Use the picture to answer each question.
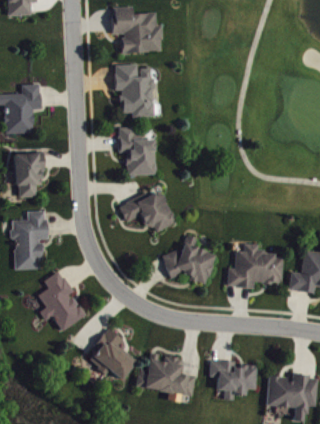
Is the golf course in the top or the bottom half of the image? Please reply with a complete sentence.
The golf course sits in the top half of the picture.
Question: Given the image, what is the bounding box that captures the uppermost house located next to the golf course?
[114,7,164,54]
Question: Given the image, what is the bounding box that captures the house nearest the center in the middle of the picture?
[120,191,177,234]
